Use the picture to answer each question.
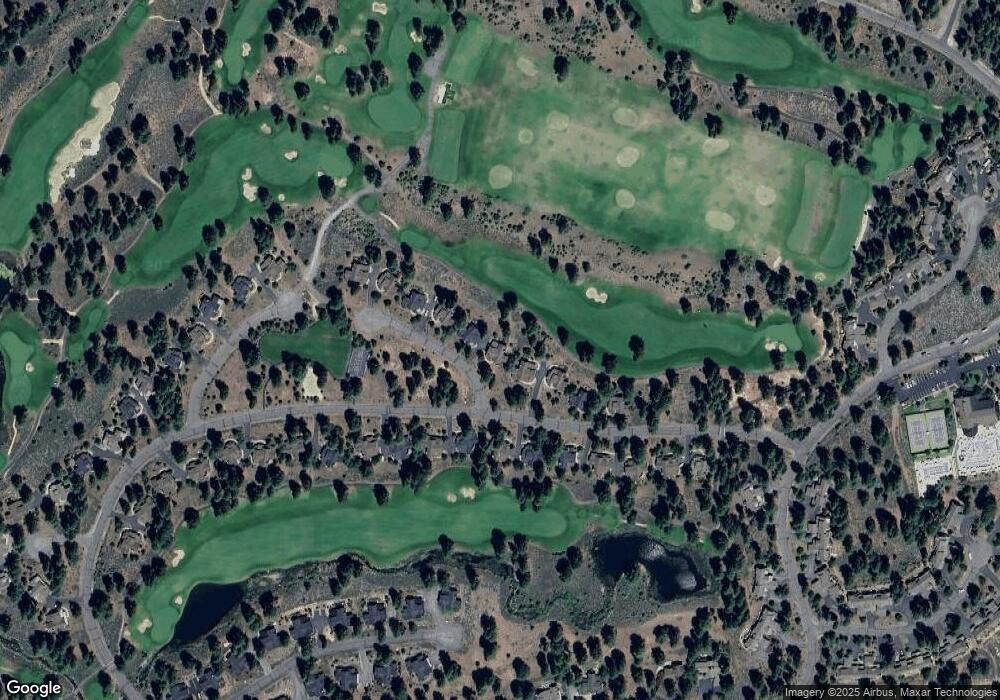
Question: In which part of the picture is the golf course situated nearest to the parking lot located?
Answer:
center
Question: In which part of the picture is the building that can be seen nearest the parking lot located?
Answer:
right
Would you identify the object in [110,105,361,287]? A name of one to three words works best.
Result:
golf course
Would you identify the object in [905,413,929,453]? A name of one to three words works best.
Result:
tennis court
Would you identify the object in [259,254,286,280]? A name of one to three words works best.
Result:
house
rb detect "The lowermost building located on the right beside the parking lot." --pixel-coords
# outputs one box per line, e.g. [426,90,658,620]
[953,394,996,435]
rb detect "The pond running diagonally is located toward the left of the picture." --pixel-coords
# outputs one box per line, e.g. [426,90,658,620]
[174,582,245,642]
